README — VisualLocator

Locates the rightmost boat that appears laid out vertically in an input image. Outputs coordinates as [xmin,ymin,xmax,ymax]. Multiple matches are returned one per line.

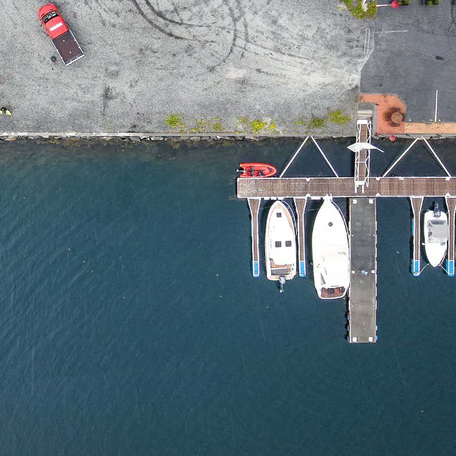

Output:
[420,203,447,267]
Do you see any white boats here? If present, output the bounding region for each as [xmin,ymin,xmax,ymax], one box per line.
[420,203,447,267]
[263,202,296,291]
[311,195,353,299]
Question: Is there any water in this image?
Yes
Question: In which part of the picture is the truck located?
top left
